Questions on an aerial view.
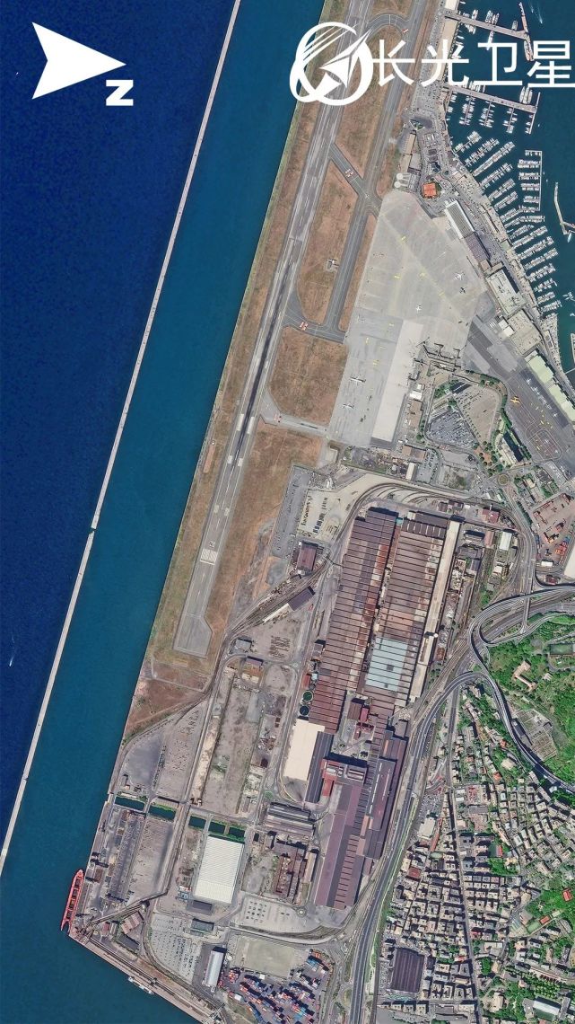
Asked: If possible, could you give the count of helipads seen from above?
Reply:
0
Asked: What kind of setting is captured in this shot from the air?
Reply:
port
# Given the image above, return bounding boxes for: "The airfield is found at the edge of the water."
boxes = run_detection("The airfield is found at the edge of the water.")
[143,0,575,671]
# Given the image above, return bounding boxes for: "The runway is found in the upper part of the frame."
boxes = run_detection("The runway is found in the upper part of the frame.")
[172,0,372,652]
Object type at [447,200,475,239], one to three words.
hangar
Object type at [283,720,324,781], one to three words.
building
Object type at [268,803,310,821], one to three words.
shed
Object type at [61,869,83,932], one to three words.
ship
